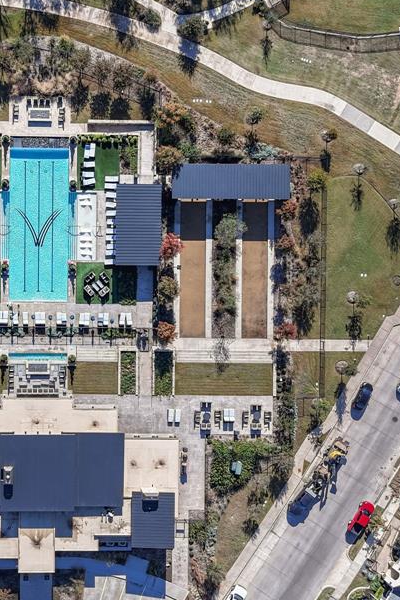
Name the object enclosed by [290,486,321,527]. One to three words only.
truck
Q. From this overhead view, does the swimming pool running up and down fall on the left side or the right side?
left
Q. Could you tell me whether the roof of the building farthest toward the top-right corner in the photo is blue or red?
blue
